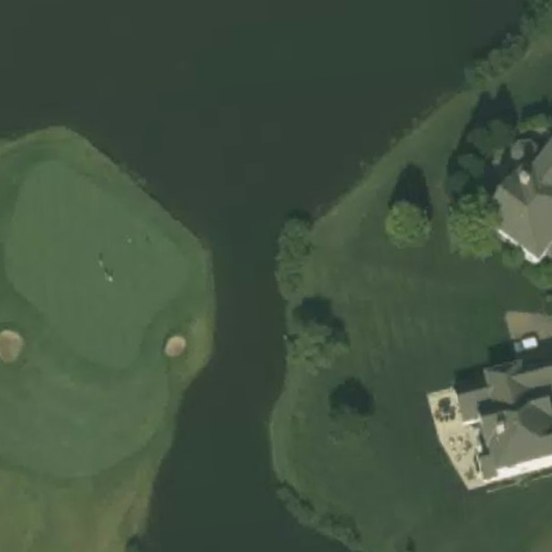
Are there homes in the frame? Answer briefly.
Yes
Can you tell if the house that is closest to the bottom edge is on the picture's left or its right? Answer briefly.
right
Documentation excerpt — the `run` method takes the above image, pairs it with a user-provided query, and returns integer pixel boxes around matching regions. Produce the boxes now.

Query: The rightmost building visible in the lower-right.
[457,359,552,483]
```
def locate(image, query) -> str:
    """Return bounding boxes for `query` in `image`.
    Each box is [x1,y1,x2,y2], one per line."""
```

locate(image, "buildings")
[495,137,552,259]
[457,359,552,483]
